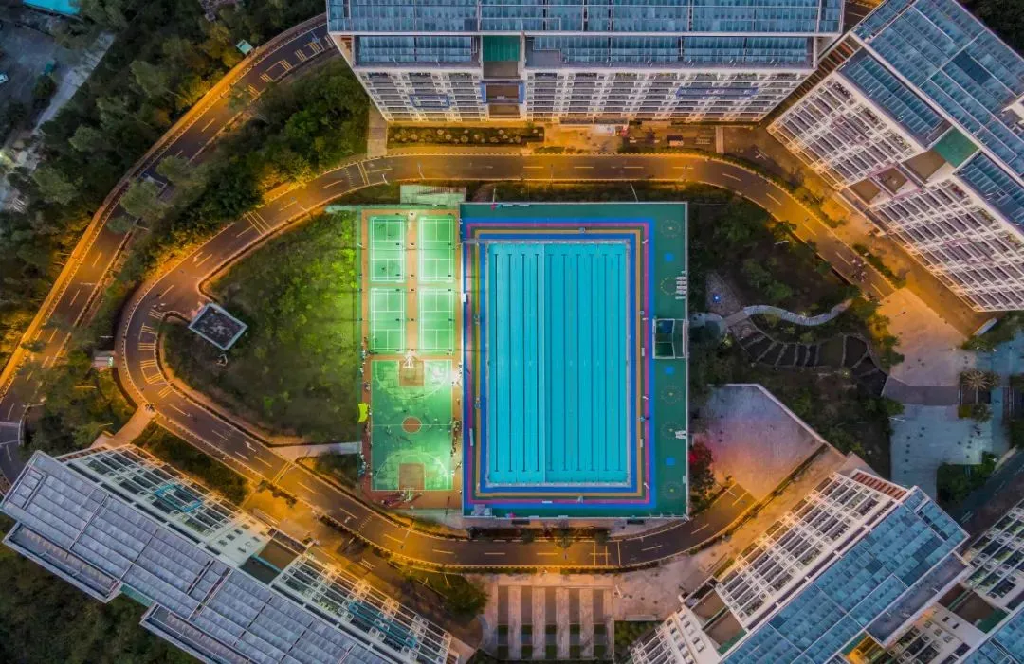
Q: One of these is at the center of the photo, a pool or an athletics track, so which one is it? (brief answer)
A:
pool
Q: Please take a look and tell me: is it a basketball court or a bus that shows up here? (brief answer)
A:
basketball court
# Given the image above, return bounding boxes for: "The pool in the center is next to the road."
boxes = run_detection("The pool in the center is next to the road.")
[459,200,691,521]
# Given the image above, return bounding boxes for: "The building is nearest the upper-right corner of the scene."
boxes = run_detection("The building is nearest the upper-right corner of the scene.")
[770,0,1024,312]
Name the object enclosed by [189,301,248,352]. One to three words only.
building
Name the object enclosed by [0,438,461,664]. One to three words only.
building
